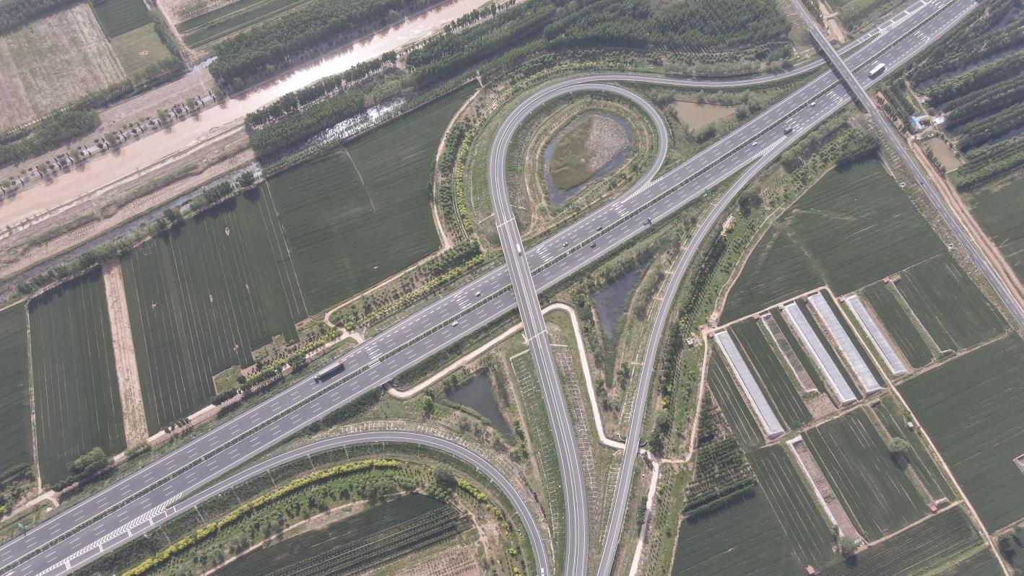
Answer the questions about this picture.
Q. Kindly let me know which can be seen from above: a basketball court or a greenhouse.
greenhouse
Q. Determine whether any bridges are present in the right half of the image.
Yes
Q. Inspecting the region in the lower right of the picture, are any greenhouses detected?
Yes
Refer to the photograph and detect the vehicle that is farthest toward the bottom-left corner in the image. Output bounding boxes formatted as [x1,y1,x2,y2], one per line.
[316,365,340,381]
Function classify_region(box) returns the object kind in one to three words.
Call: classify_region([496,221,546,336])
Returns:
overpass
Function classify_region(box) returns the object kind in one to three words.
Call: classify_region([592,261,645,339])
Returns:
pond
